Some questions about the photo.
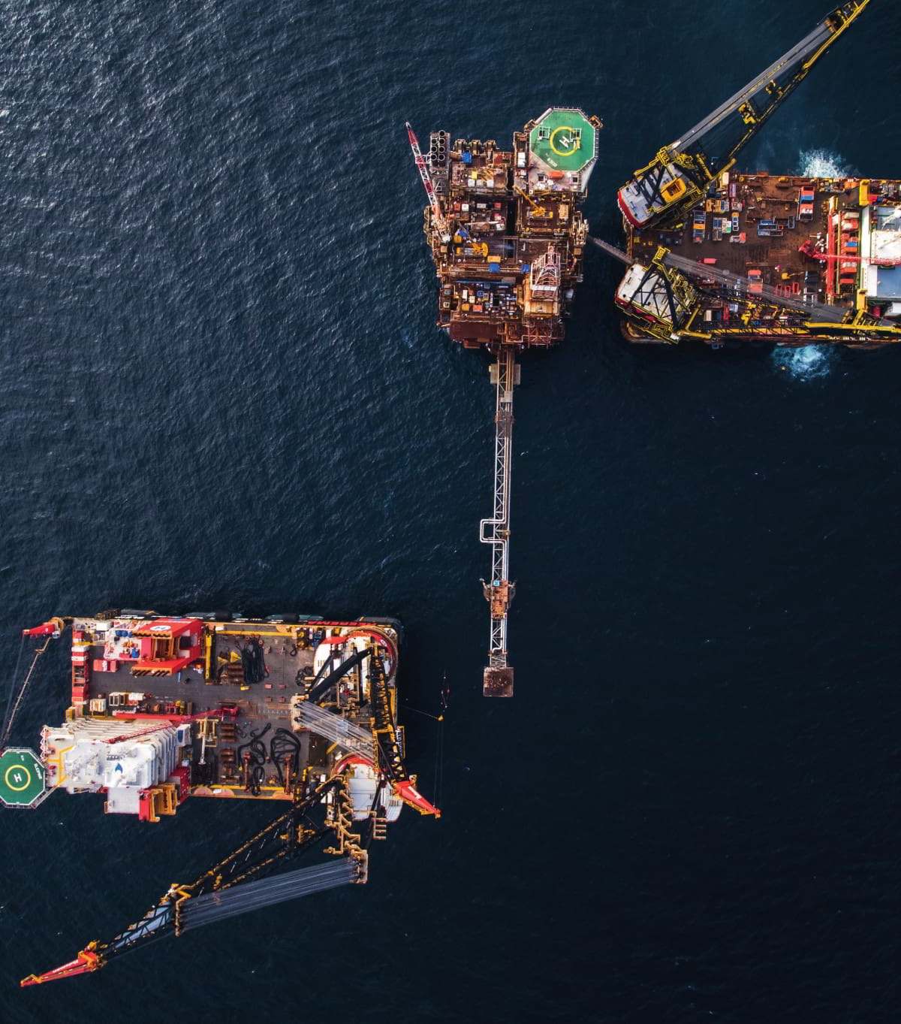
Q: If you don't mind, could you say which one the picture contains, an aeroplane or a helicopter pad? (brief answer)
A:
helicopter pad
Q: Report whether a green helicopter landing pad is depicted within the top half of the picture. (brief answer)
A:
Yes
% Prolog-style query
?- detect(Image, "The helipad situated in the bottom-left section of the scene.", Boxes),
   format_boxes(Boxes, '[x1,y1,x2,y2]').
[0,746,62,808]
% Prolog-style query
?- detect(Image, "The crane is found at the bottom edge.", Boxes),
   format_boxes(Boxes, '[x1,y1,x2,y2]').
[19,741,402,987]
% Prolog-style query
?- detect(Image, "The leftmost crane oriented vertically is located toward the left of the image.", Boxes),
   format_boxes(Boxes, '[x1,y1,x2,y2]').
[205,626,219,683]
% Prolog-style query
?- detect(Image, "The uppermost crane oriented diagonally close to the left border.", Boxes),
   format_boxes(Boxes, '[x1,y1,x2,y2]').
[1,613,95,741]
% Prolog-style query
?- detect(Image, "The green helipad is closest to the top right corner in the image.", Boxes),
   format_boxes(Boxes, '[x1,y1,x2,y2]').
[526,107,599,176]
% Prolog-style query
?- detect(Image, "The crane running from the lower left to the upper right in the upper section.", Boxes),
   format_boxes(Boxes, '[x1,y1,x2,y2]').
[615,0,871,235]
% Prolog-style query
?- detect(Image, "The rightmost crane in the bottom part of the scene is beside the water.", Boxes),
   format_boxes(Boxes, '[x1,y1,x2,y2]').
[293,628,442,817]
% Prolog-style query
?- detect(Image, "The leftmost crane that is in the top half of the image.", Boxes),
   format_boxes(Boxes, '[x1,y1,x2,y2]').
[406,121,450,249]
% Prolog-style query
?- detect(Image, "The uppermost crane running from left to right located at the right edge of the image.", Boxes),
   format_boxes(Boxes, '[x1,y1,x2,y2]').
[796,234,901,271]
